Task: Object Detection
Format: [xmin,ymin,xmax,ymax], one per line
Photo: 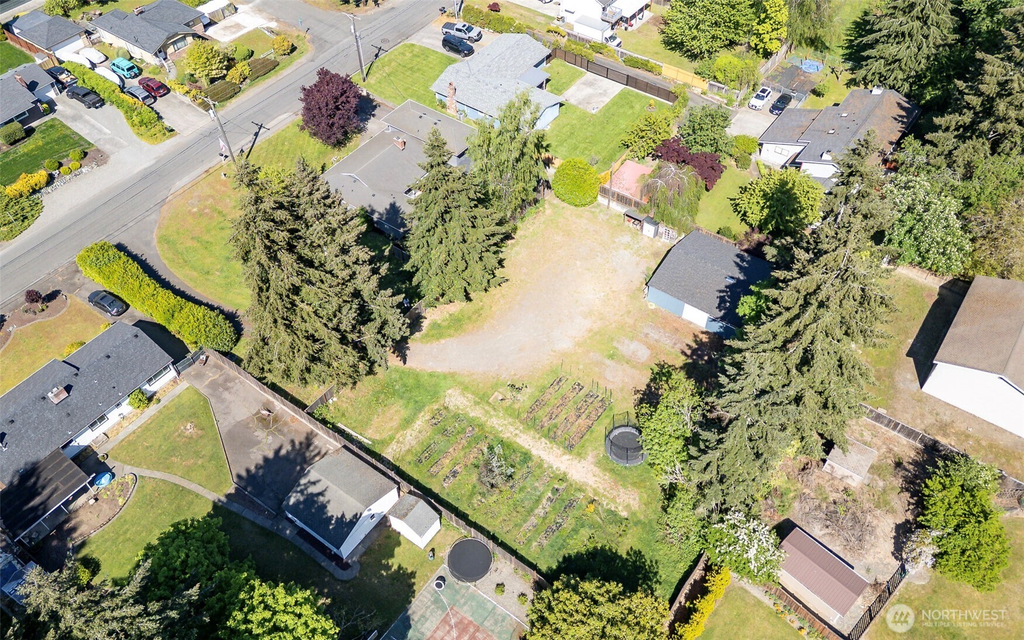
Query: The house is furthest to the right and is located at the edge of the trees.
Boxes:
[922,277,1024,432]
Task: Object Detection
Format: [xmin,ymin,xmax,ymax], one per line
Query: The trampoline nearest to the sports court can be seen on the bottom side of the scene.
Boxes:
[444,534,496,588]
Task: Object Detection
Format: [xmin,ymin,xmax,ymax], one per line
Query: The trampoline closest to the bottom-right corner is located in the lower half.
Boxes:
[601,414,651,472]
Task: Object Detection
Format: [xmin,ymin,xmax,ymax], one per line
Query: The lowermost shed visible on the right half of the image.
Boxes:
[778,535,868,621]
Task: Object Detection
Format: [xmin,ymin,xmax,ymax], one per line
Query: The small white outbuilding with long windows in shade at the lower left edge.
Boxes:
[2,560,61,612]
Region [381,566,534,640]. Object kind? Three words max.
sports court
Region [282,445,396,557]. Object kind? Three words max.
building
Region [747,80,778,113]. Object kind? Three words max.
car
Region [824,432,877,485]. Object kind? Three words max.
shed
